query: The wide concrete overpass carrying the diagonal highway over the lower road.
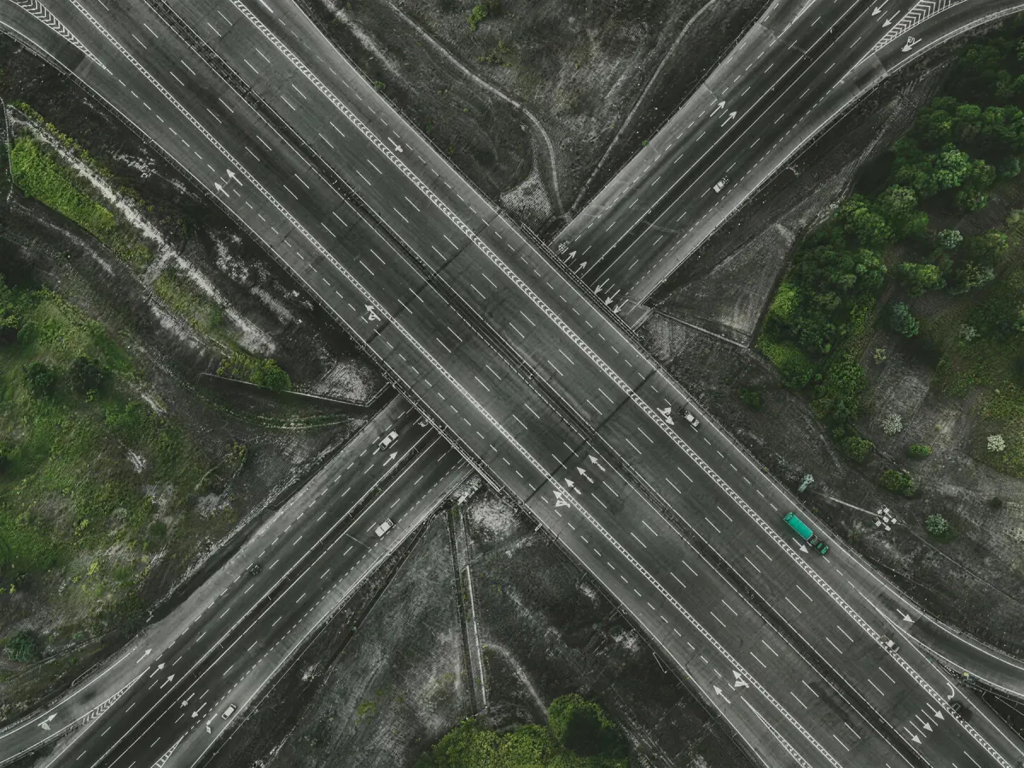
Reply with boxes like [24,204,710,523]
[360,207,661,508]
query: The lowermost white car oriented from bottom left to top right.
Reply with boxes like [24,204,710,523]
[219,702,236,720]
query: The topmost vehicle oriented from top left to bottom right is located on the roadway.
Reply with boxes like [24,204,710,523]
[684,408,703,427]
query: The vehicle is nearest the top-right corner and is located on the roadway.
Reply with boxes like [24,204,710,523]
[711,173,732,193]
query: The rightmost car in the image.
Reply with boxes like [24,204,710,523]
[948,700,969,720]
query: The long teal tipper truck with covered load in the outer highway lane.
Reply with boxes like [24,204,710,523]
[782,510,831,556]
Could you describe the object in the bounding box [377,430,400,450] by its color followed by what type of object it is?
white vehicle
